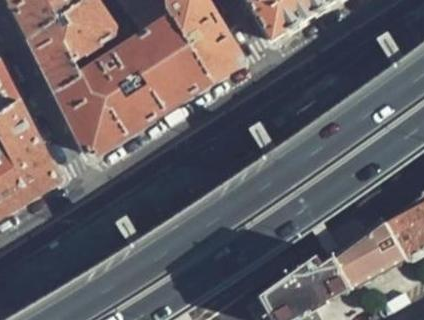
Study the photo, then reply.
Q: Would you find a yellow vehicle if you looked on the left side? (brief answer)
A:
No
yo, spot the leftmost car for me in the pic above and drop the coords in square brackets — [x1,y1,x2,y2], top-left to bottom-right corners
[0,216,20,234]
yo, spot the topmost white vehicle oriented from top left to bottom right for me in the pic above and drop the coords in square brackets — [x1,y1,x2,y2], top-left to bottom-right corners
[232,28,246,44]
